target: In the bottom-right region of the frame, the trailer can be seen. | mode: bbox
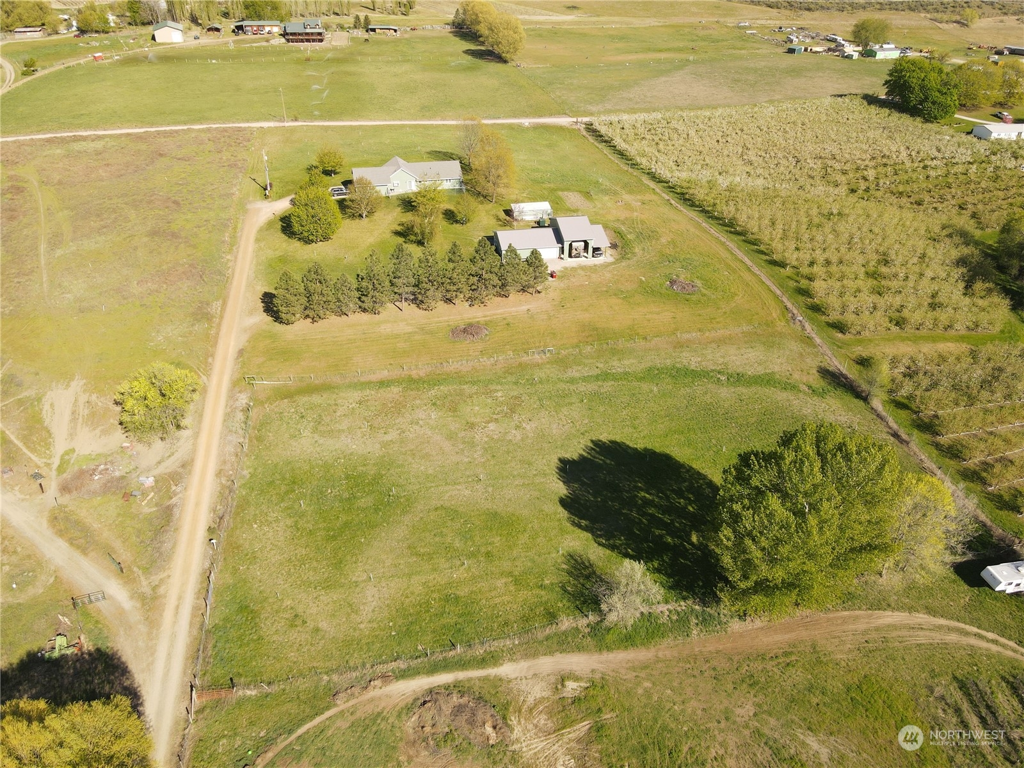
[984,561,1024,597]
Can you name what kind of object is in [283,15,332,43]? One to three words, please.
house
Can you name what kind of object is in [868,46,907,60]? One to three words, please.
house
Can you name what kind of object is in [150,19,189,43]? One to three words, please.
barn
